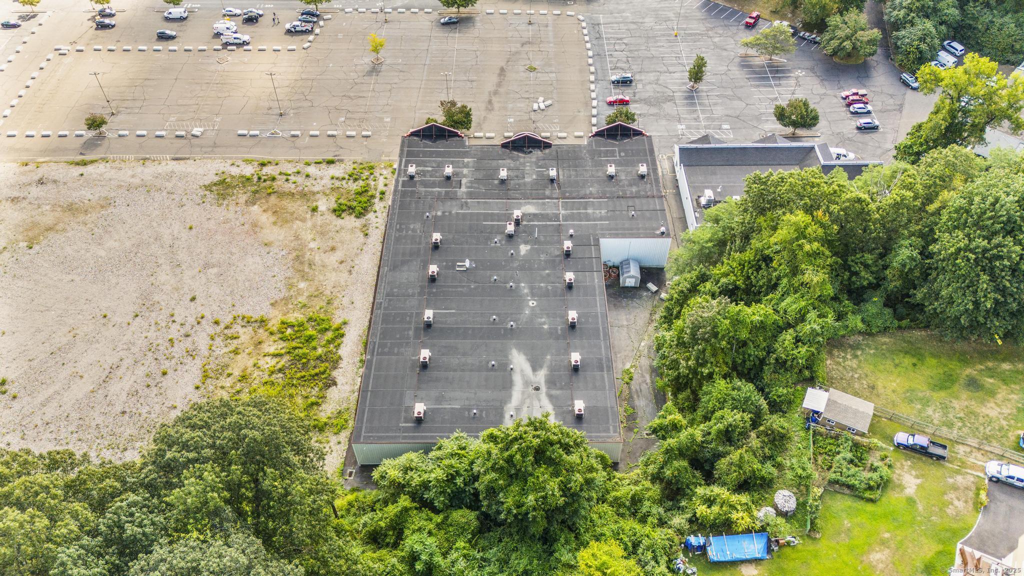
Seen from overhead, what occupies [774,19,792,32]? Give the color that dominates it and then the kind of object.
white vehicle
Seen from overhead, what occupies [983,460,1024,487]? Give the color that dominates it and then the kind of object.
white car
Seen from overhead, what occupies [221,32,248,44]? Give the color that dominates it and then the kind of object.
white vehicle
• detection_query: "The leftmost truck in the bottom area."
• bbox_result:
[895,433,948,460]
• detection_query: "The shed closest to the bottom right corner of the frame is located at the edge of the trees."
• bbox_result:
[821,389,874,439]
